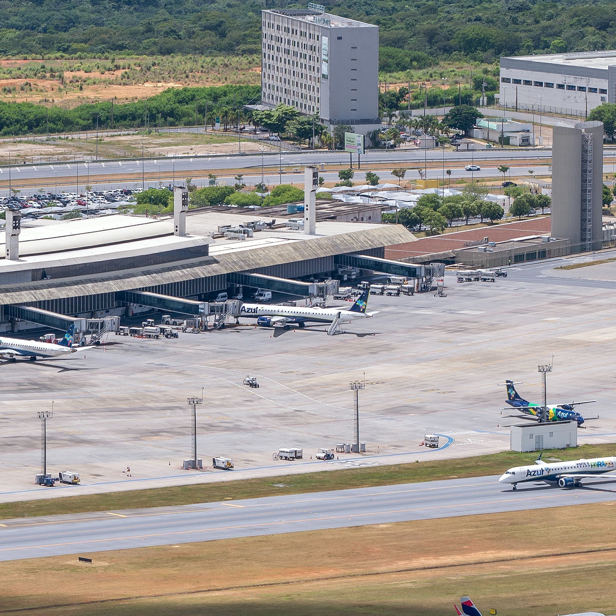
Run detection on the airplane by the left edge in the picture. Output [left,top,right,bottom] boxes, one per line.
[0,321,95,361]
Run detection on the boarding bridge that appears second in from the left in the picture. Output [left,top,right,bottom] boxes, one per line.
[121,289,241,332]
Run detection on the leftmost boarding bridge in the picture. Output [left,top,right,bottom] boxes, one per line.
[4,304,122,350]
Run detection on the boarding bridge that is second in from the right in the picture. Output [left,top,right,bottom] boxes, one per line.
[230,272,341,308]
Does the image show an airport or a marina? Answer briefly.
airport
